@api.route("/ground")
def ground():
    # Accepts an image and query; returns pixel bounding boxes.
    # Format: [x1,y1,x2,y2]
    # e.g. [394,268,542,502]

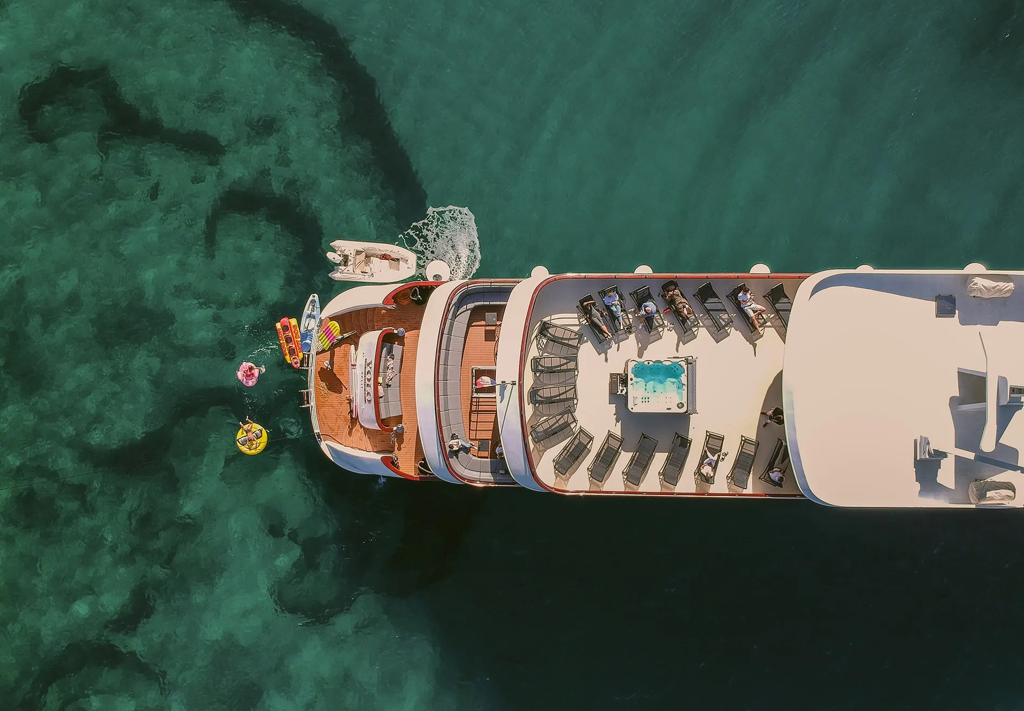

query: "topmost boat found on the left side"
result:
[327,240,417,282]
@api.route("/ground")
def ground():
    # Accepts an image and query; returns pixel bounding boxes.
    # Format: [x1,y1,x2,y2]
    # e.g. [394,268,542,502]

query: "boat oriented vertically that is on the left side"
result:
[299,294,319,352]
